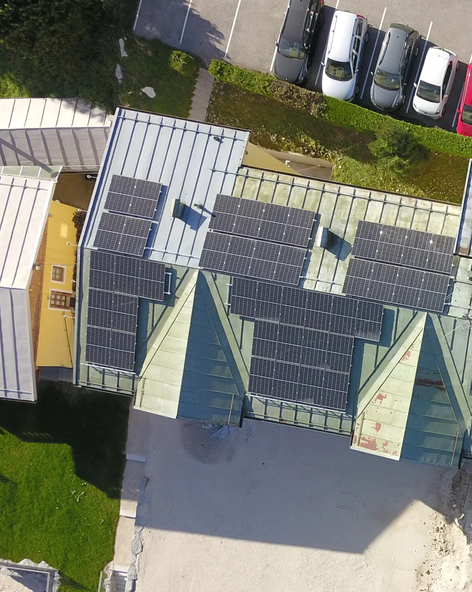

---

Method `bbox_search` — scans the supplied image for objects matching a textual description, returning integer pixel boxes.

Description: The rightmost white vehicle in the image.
[410,36,460,120]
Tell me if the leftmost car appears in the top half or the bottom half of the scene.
top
